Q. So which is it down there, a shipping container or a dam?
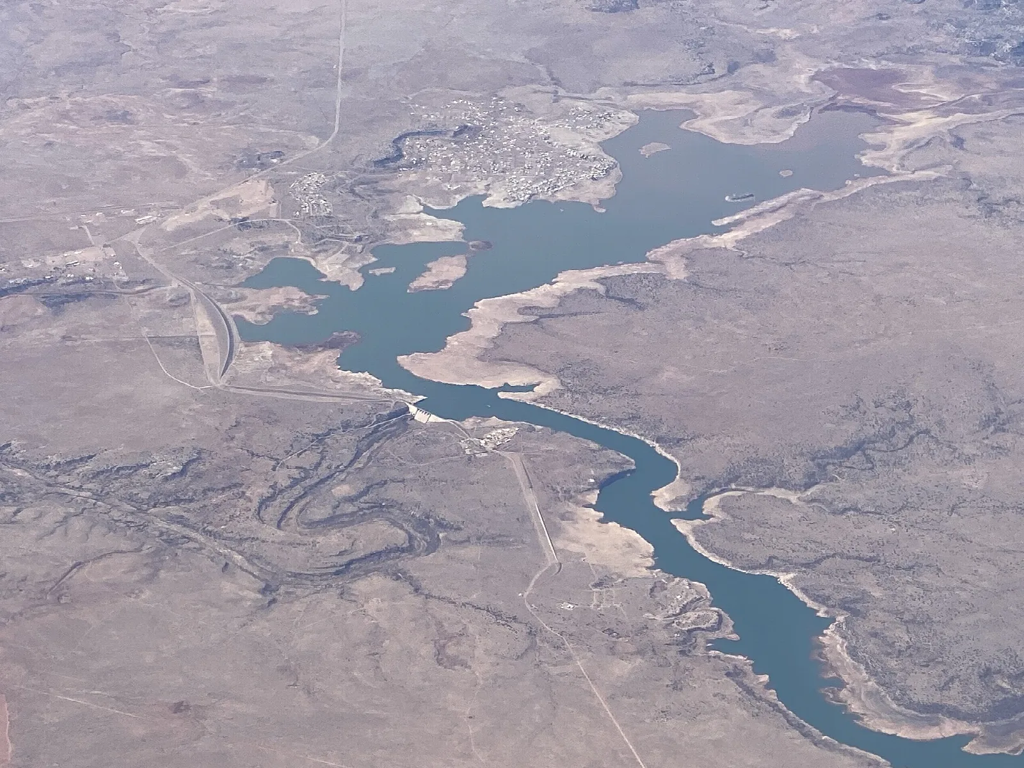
dam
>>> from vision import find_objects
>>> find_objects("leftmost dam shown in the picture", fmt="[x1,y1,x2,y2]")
[174,279,236,378]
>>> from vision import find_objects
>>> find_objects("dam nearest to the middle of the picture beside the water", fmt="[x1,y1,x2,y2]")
[403,400,452,425]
